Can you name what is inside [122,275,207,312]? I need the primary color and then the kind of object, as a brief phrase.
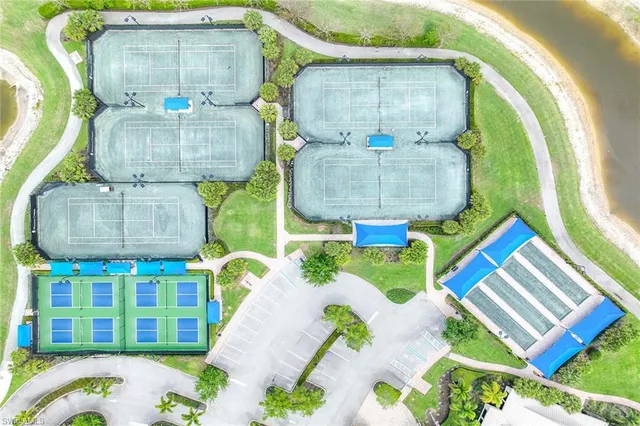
green sports court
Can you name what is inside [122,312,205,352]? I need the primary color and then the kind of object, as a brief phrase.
green sports court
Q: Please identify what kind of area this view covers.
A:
sports ground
